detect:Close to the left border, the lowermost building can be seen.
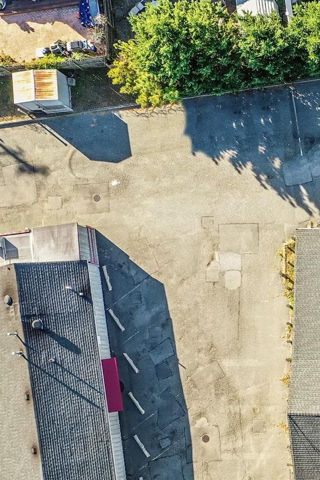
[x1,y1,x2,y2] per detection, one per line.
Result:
[0,223,127,480]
